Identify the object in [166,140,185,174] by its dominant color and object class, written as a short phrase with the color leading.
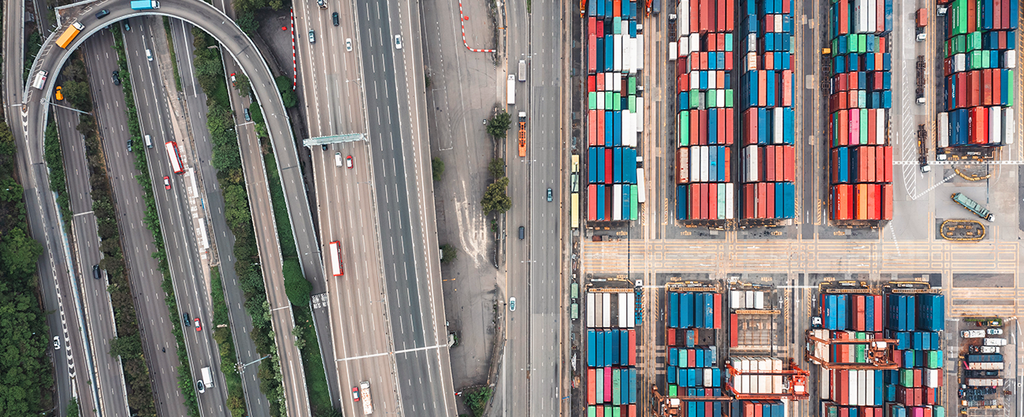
white vehicle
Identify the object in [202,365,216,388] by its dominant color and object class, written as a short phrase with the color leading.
white vehicle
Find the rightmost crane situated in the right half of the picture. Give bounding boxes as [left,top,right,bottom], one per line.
[807,331,903,368]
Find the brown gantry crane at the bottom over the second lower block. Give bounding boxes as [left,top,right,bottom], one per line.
[653,383,739,417]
